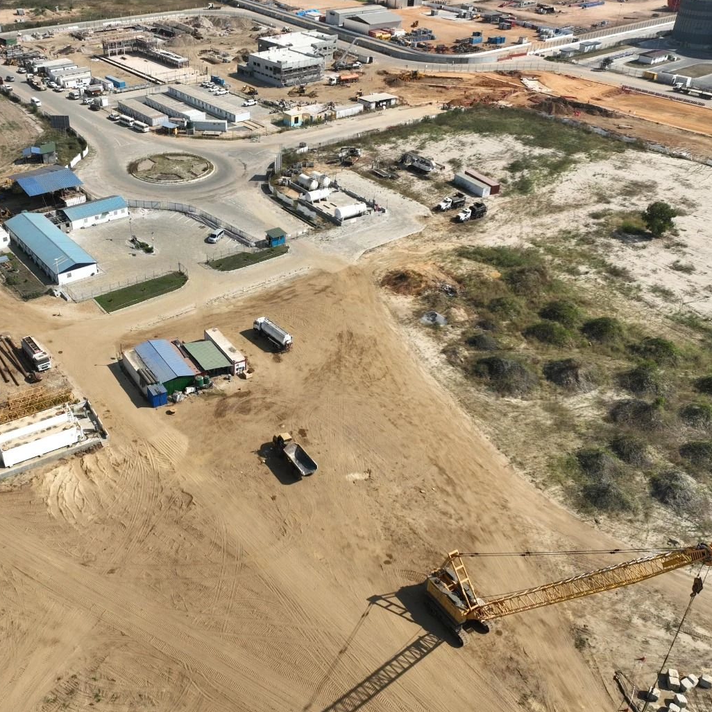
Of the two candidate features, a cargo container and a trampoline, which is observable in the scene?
cargo container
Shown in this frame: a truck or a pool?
truck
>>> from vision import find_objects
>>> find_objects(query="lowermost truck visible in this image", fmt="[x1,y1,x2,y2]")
[276,430,322,477]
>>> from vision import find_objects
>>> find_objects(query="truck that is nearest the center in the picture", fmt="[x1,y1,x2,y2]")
[254,311,302,348]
